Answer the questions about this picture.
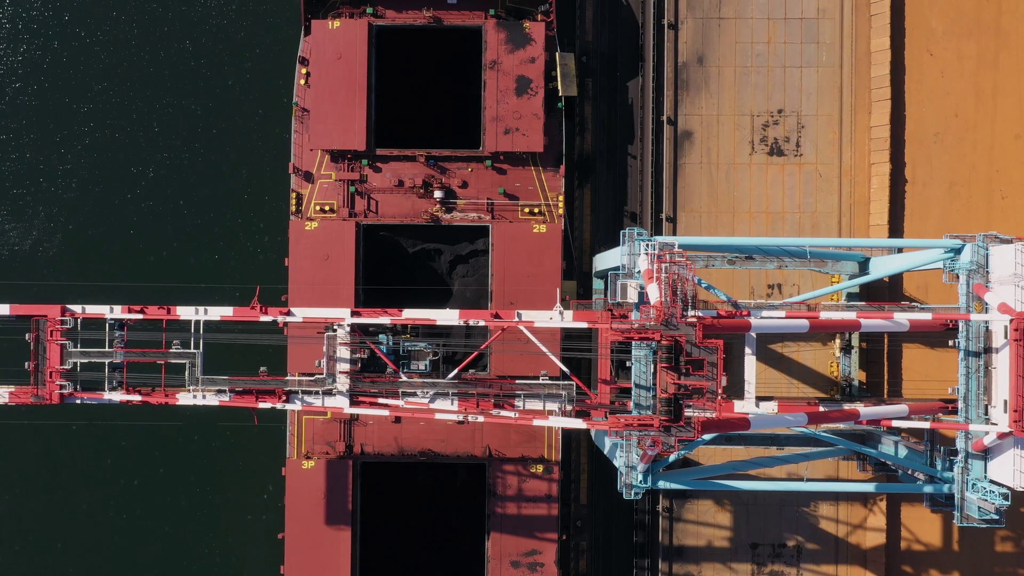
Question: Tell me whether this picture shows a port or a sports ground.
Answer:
port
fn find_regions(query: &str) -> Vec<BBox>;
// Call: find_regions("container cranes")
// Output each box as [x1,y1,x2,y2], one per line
[0,226,1024,526]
